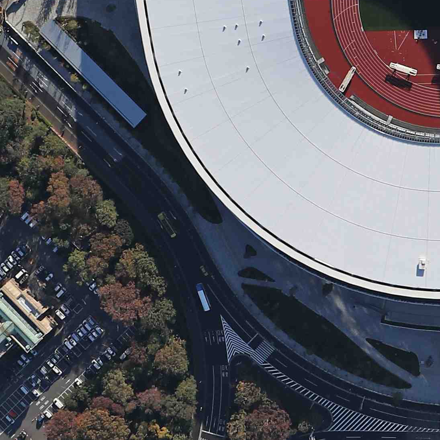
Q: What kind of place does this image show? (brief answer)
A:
sports ground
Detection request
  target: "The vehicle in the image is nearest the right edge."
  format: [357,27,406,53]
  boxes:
[196,284,214,313]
